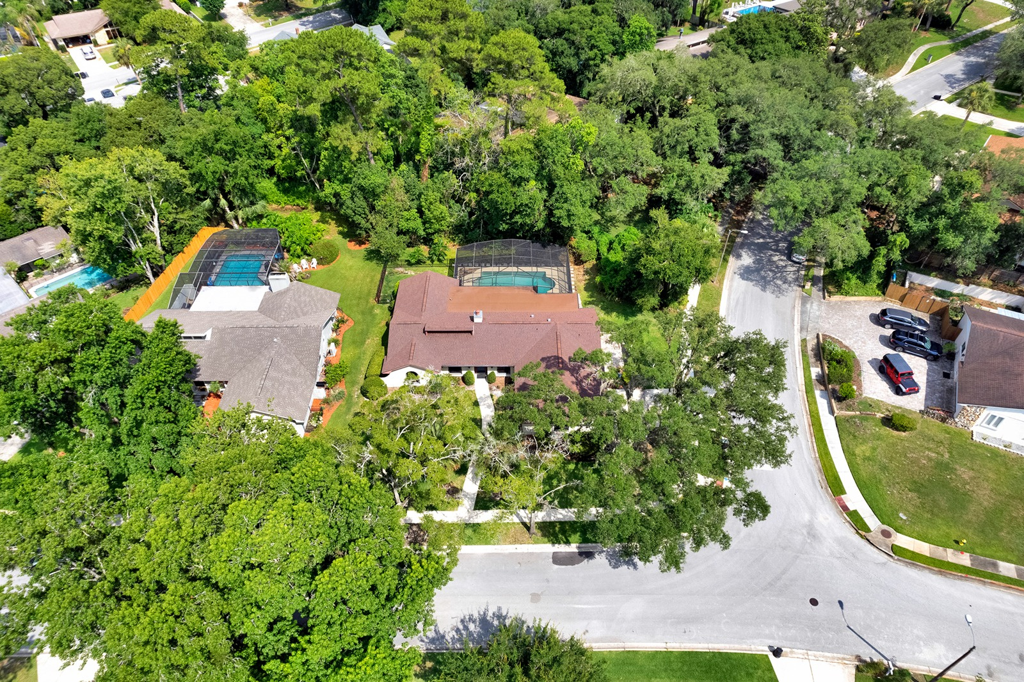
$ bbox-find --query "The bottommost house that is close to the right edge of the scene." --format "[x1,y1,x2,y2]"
[953,284,1024,447]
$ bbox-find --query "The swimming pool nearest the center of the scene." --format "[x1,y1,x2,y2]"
[470,270,560,292]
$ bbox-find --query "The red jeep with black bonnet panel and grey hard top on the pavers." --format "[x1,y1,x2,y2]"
[880,352,925,397]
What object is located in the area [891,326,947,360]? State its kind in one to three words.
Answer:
car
